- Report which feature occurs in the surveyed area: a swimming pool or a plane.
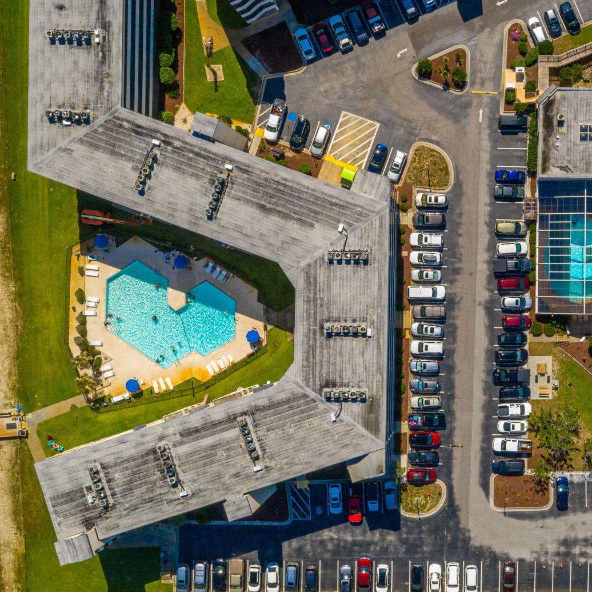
swimming pool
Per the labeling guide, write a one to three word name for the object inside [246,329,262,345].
umbrella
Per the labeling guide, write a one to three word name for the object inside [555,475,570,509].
car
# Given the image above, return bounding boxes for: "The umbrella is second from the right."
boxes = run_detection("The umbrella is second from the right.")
[173,254,190,270]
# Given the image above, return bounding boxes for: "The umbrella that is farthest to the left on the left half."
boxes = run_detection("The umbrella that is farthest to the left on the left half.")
[94,233,110,249]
